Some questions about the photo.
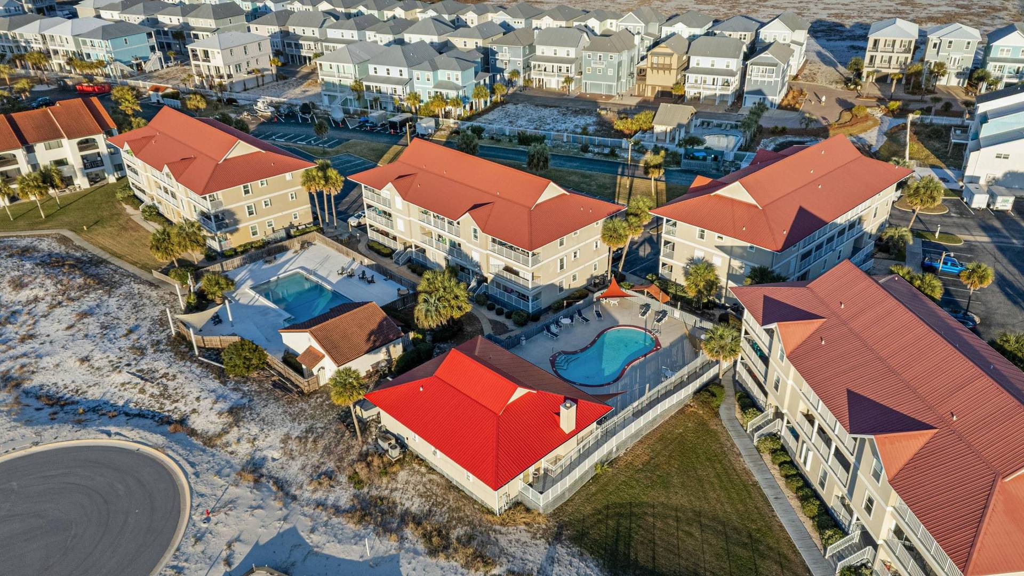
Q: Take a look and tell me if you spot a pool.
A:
Yes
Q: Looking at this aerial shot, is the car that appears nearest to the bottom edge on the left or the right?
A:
right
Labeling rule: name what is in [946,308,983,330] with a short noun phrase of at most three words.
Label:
car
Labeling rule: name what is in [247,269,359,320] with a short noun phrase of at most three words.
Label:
swimming pool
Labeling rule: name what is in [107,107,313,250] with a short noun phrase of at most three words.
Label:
building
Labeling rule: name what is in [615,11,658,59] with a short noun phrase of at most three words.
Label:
house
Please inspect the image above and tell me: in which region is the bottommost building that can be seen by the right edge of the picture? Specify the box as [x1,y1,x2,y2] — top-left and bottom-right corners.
[730,259,1024,576]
